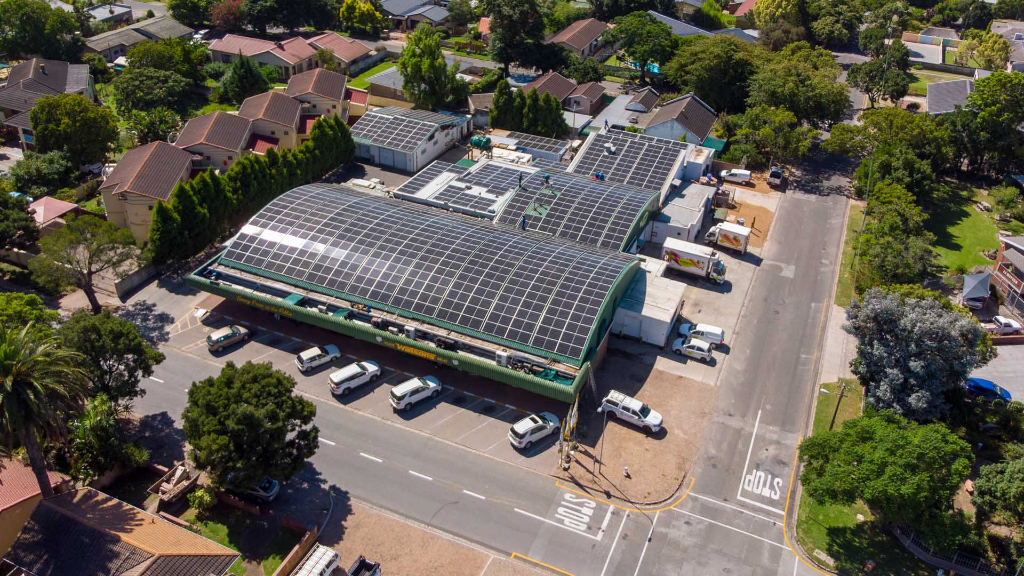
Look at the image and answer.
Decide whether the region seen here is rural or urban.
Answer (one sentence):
From above, the setting appears urban.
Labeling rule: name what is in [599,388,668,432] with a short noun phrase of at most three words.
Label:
truck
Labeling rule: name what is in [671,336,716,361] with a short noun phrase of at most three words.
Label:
car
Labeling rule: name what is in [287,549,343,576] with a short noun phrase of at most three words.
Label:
vehicle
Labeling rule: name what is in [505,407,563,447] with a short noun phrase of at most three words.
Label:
car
